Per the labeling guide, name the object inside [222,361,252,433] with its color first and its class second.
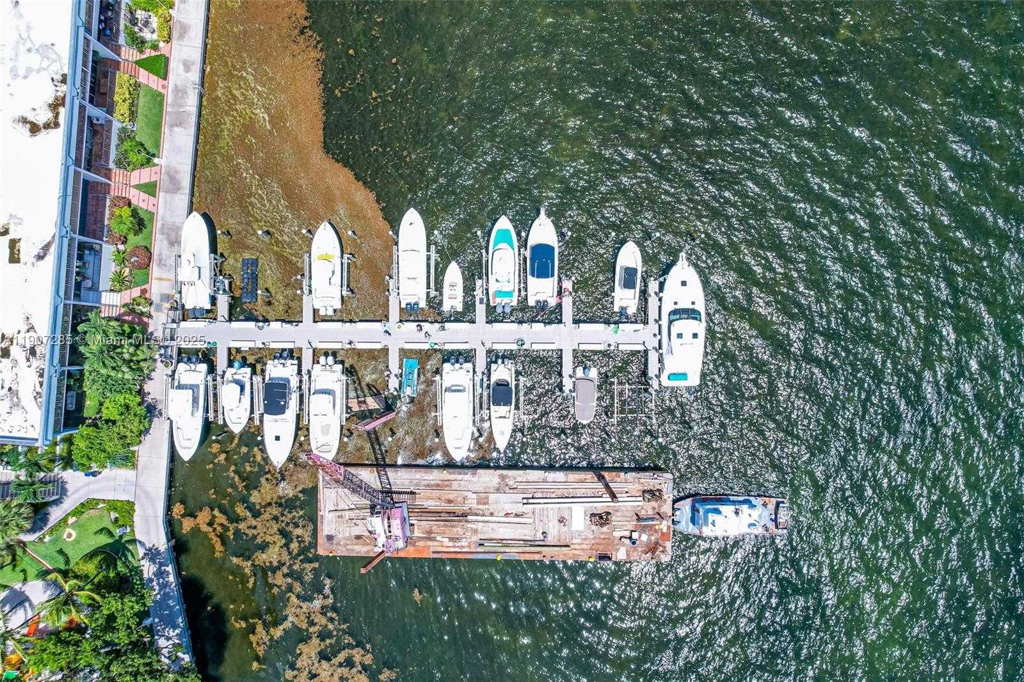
white boat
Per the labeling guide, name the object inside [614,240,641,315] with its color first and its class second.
white boat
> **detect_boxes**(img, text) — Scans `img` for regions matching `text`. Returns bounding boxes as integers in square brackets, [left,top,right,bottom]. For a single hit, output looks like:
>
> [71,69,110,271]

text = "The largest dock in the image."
[177,280,659,390]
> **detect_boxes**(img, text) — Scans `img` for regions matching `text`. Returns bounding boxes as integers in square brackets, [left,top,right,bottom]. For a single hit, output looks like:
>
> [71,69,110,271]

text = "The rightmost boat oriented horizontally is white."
[672,493,789,537]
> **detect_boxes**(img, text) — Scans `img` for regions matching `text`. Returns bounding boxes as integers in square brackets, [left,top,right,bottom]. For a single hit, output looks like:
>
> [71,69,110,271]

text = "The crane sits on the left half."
[300,448,411,554]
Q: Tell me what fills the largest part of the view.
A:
water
